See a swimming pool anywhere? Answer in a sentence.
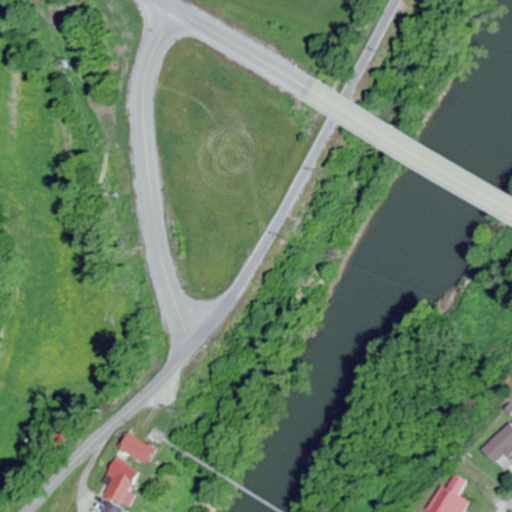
No, the photo shows no swimming pool.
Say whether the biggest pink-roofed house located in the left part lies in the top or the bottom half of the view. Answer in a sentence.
It is in the bottom half that the biggest pink-roofed house located in the left part appears.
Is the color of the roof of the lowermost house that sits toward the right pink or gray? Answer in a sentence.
The roof of the lowermost house that sits toward the right is pink.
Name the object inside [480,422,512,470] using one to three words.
house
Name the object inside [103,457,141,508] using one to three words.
house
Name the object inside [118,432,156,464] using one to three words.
shed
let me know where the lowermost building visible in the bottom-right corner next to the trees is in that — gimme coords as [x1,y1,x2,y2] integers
[423,475,470,512]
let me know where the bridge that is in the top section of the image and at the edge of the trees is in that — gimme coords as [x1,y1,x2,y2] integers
[304,79,512,226]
